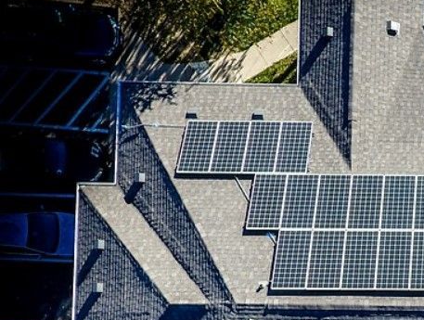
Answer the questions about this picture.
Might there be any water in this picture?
No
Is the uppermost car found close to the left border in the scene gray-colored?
No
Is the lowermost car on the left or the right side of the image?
left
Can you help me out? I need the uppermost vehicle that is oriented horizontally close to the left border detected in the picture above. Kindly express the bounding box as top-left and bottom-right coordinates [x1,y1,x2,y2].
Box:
[0,0,122,60]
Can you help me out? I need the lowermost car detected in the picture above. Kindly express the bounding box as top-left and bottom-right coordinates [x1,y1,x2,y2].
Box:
[0,204,76,260]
